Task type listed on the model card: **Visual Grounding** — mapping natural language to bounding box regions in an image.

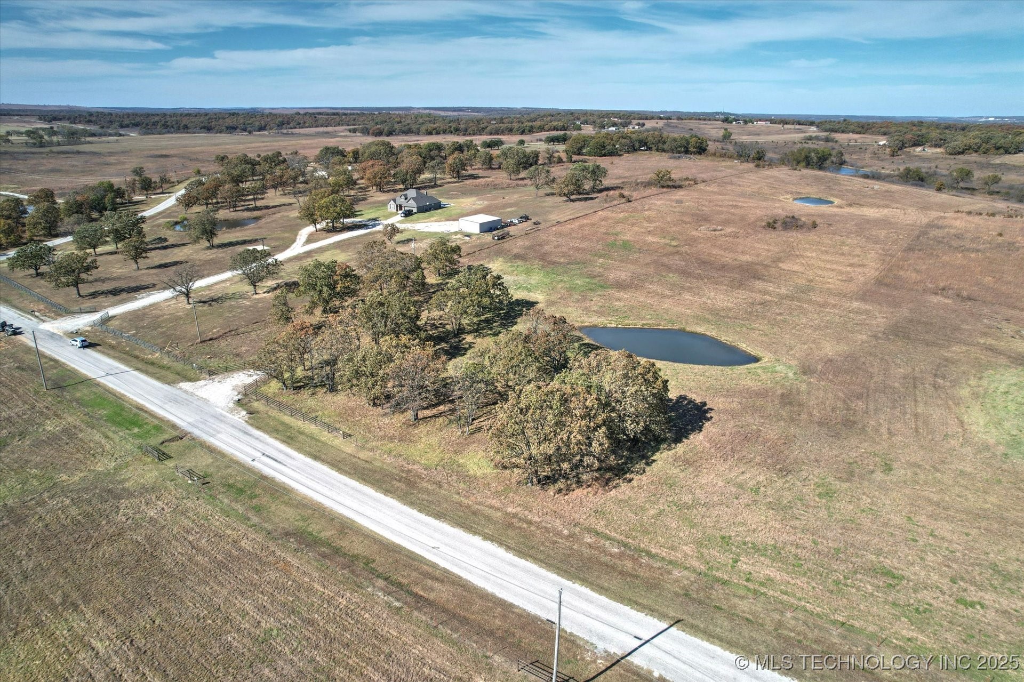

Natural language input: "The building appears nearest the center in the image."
[458,215,502,234]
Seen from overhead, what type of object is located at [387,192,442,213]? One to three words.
house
